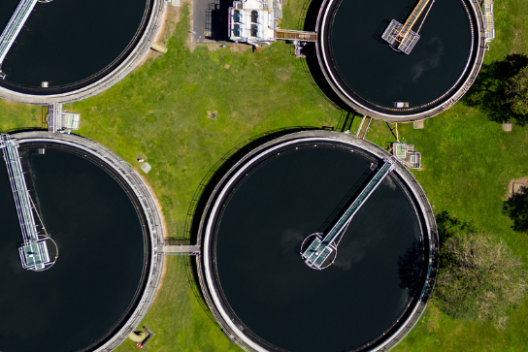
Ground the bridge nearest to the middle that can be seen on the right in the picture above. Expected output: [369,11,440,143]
[297,158,399,270]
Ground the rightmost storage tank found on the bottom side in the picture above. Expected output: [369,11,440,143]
[195,130,438,352]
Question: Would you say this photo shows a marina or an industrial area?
industrial area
